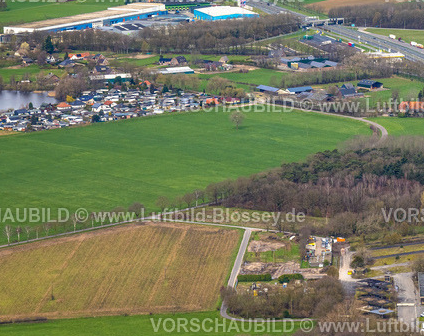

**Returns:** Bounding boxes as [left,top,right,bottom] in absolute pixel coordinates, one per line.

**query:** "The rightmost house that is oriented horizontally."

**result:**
[397,101,424,114]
